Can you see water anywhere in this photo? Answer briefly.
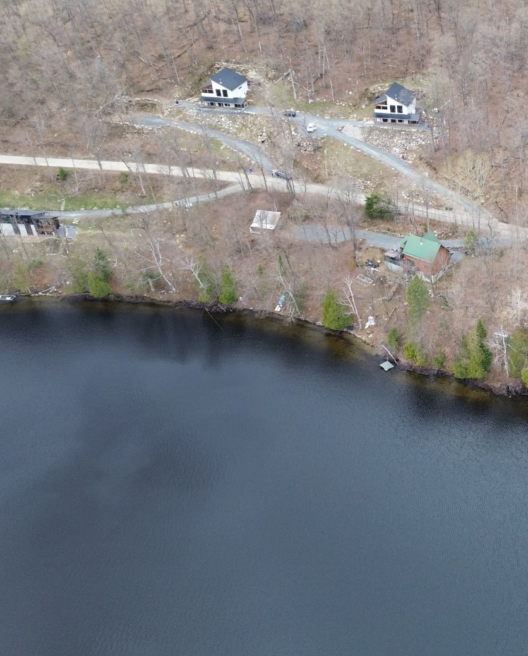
Yes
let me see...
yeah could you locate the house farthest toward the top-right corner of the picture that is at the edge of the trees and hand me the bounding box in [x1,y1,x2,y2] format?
[371,82,419,126]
